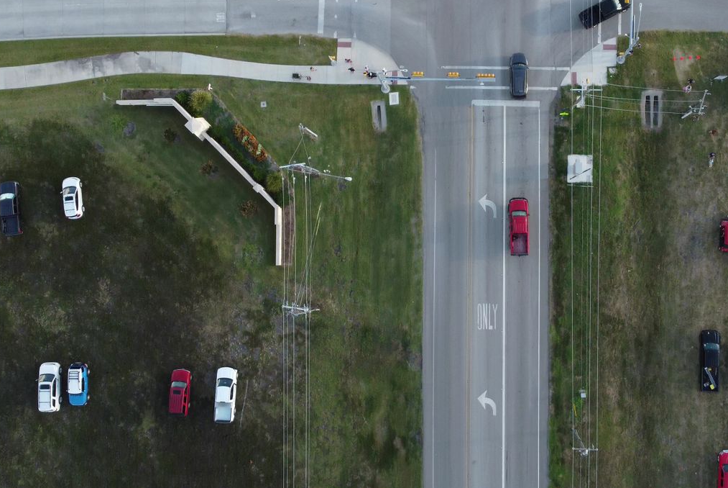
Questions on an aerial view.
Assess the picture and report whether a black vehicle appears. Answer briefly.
Yes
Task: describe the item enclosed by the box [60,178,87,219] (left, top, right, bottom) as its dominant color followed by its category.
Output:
white car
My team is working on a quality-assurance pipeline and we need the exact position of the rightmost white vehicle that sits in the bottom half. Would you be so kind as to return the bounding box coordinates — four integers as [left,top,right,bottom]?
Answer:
[213,367,238,425]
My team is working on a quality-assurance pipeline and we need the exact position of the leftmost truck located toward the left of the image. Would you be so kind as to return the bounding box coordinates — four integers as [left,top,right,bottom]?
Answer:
[0,181,26,237]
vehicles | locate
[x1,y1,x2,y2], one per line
[508,198,530,257]
[65,361,91,407]
[698,329,724,392]
[213,367,238,425]
[167,368,193,417]
[60,178,87,219]
[0,181,26,237]
[508,53,530,98]
[36,362,63,413]
[717,449,728,488]
[717,219,728,254]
